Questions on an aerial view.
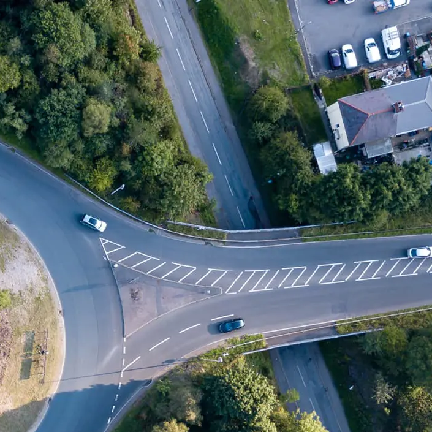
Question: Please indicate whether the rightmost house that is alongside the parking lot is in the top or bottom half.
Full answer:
It is in the top half that the rightmost house that is alongside the parking lot appears.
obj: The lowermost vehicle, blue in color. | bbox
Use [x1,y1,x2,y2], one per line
[217,318,244,333]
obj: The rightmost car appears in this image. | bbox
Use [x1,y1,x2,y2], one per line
[405,244,432,258]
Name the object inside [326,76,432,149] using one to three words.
house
